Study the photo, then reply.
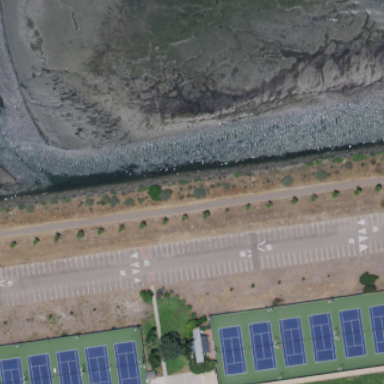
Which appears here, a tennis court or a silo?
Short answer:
tennis court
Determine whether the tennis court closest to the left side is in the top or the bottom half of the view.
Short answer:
bottom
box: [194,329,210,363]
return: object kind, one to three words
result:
building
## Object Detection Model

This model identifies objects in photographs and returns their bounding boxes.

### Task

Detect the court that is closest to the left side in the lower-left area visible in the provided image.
[0,358,24,384]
